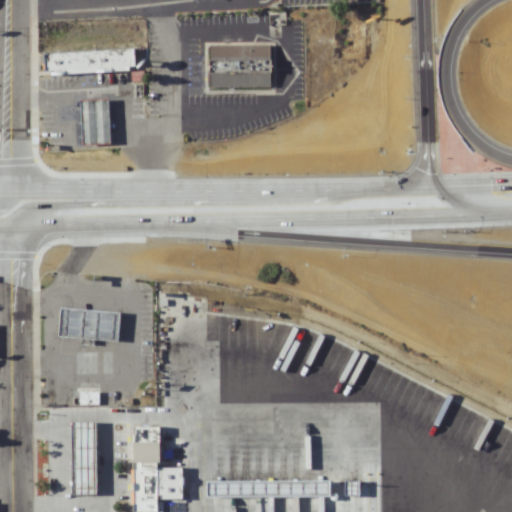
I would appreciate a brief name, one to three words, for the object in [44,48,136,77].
building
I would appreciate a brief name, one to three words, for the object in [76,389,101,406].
building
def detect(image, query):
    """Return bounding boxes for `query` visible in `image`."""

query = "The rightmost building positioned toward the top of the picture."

[210,44,272,89]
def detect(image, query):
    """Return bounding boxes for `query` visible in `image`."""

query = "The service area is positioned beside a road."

[38,292,512,512]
